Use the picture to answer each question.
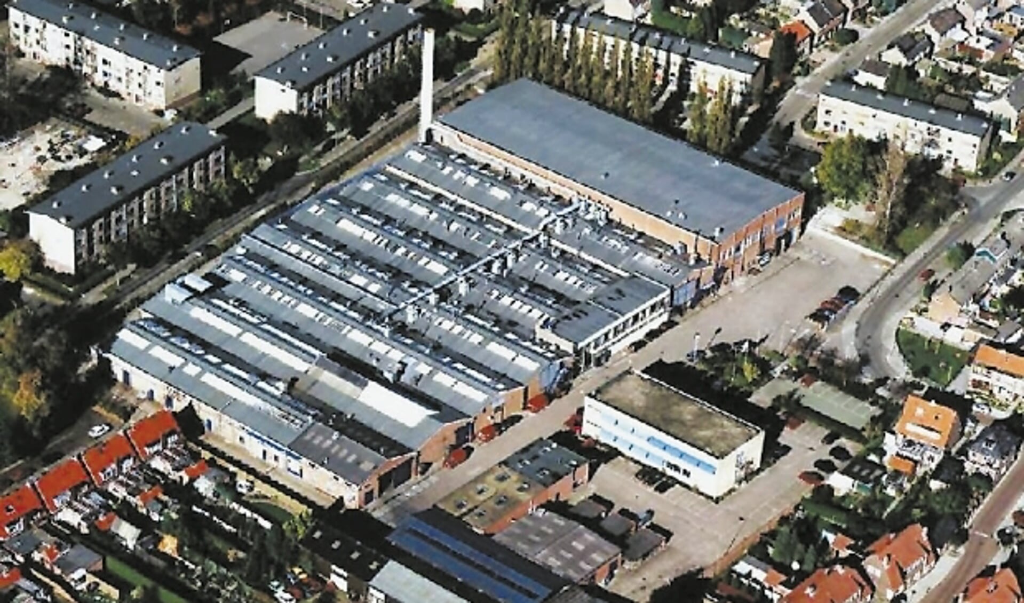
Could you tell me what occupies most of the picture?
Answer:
buildings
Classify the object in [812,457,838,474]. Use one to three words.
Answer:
car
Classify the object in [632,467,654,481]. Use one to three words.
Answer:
car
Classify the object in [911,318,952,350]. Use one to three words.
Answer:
shed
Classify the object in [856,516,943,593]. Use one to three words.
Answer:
house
